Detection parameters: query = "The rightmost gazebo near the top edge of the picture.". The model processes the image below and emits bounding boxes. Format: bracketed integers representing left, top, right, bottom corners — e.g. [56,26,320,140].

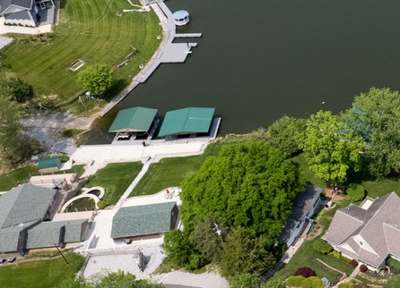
[169,4,189,24]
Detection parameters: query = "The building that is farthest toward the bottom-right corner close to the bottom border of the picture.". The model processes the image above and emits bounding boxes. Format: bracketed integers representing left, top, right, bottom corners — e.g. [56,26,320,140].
[319,189,400,288]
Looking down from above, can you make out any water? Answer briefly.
Yes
